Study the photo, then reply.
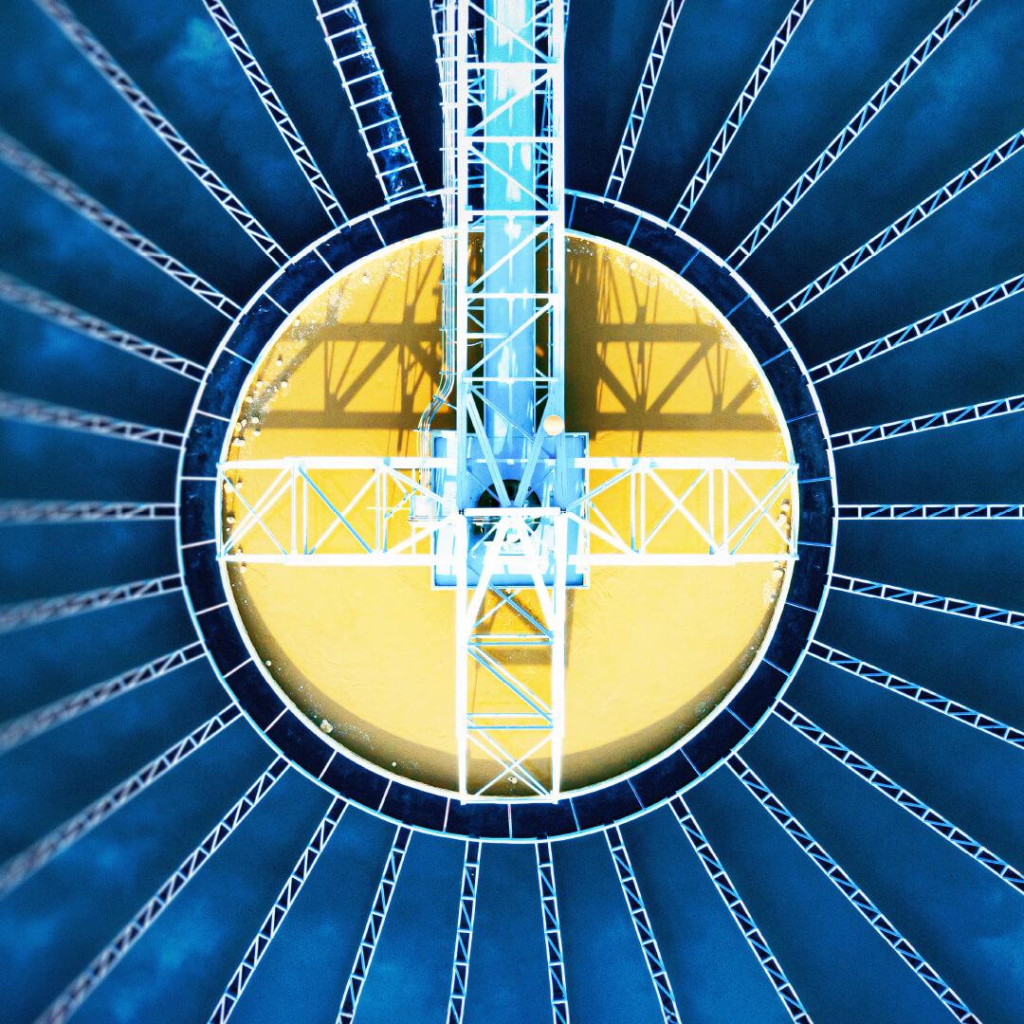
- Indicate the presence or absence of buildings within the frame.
No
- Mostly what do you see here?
water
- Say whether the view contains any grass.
No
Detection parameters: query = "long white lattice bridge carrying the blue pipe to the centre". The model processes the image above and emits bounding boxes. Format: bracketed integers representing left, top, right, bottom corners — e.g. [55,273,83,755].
[457,0,568,510]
